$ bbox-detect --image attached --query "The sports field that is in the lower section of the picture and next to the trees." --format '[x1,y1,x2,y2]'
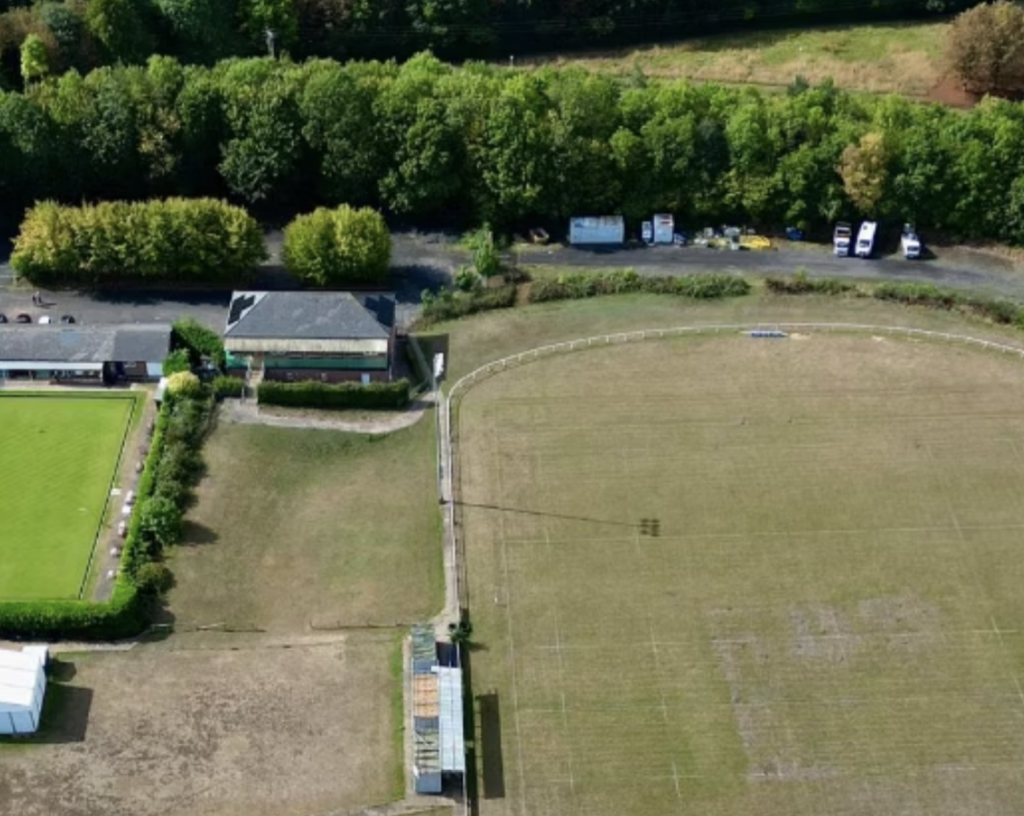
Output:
[452,332,1024,816]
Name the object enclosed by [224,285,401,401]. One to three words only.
building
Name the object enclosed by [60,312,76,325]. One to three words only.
vehicle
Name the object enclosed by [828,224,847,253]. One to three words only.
vehicle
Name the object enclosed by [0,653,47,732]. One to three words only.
tent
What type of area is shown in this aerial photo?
sports ground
